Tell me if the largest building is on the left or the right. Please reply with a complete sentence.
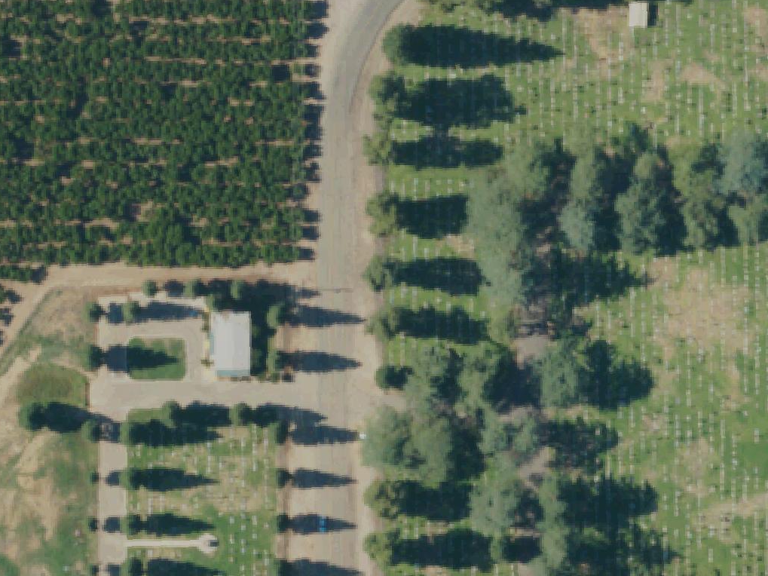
The largest building is on the left side of the image.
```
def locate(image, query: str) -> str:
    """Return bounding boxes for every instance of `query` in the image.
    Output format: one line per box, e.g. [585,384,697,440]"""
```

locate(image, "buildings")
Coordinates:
[207,311,250,383]
[629,1,648,26]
